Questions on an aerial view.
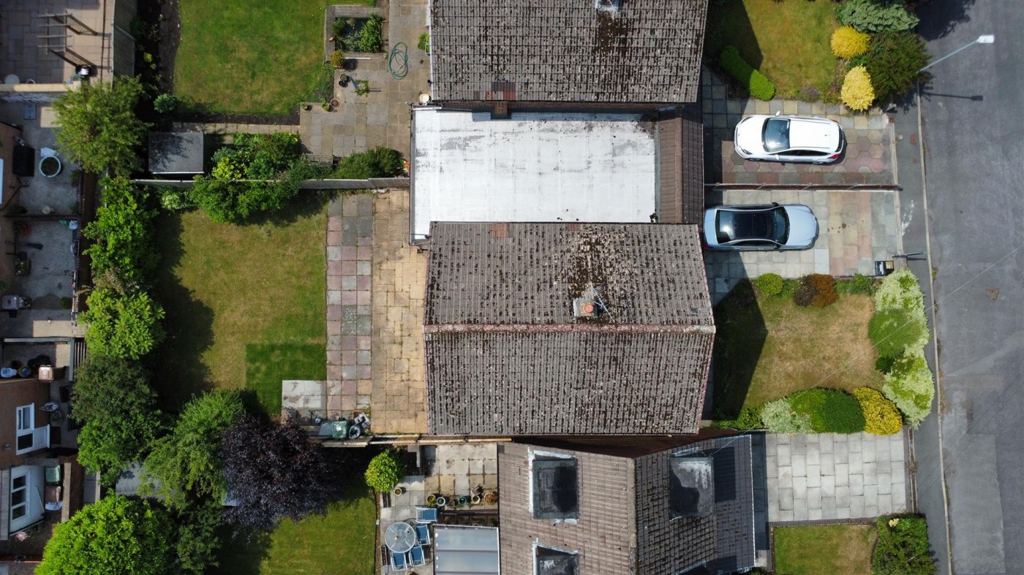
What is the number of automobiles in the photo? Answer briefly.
2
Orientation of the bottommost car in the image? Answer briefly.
from left to right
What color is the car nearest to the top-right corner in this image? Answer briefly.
white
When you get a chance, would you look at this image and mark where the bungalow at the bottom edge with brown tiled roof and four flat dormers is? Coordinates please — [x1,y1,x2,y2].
[495,427,754,575]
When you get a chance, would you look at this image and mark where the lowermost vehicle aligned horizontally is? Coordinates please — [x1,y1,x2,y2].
[702,198,817,255]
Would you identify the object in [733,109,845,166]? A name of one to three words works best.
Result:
car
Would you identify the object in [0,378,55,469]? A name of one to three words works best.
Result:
house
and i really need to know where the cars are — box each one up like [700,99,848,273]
[733,109,845,166]
[702,198,817,255]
